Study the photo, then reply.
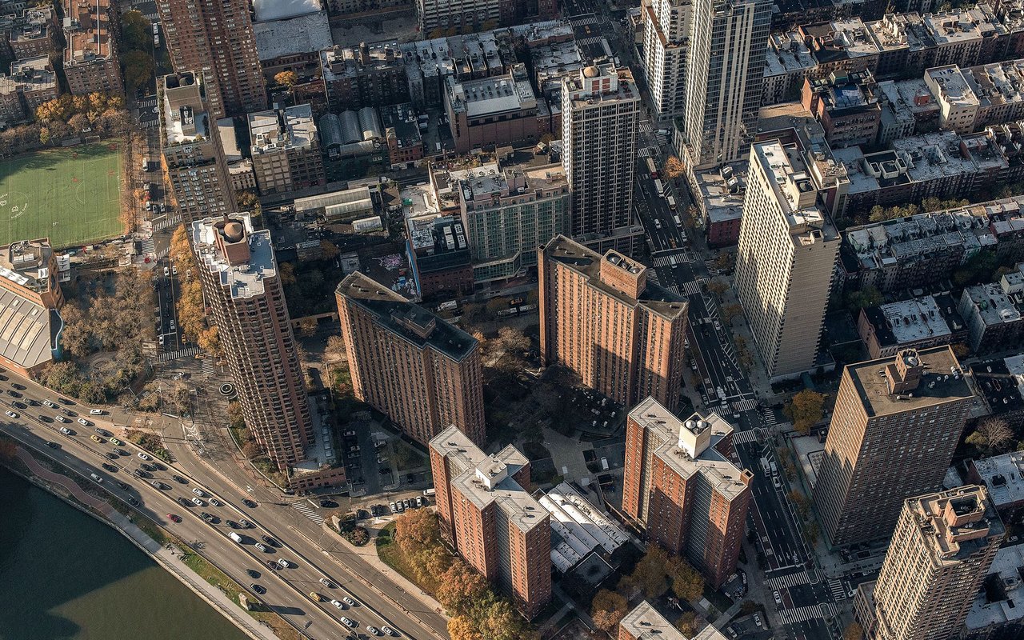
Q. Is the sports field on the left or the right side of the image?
left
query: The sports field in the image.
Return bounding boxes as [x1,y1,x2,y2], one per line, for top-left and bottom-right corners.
[0,142,123,246]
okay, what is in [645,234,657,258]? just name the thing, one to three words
vehicle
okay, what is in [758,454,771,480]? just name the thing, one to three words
vehicle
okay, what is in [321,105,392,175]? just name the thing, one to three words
building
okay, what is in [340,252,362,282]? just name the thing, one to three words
shed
